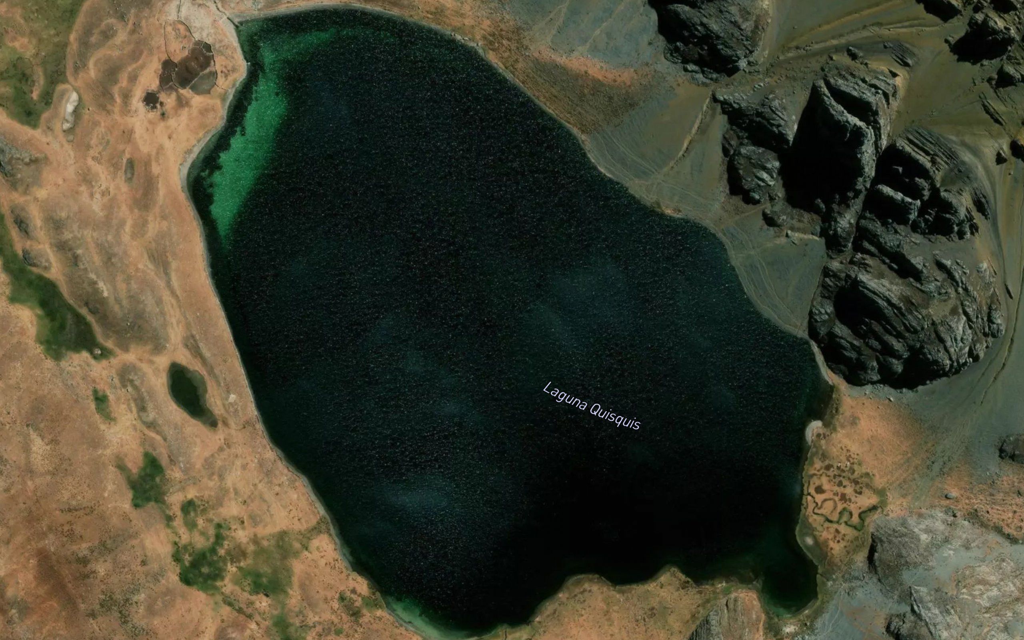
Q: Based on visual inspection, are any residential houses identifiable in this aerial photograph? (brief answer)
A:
No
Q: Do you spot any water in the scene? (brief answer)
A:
Yes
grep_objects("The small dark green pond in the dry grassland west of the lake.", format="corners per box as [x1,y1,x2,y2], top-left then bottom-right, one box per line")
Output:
[166,361,218,428]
